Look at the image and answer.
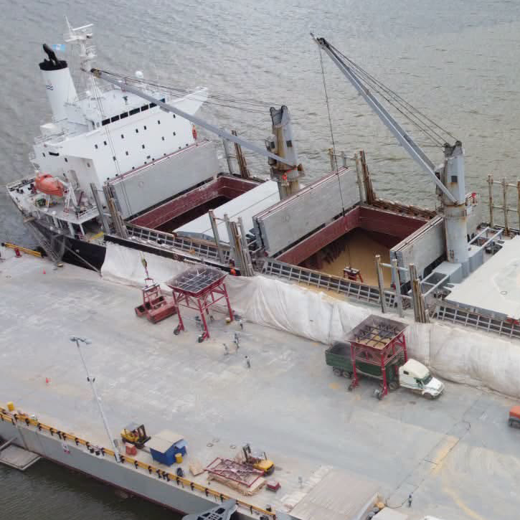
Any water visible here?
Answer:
Yes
